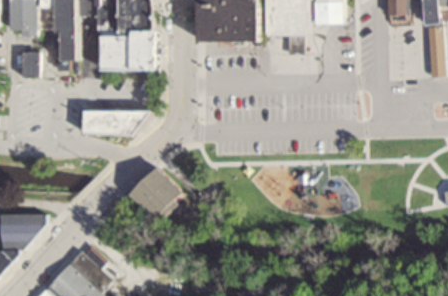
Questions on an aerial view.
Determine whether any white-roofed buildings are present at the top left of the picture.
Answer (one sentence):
Yes, a white-roofed building can be seen at the top left of the picture.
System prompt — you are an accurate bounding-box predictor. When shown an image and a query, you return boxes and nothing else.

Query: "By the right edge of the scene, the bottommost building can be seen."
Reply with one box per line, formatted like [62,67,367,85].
[430,26,445,77]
